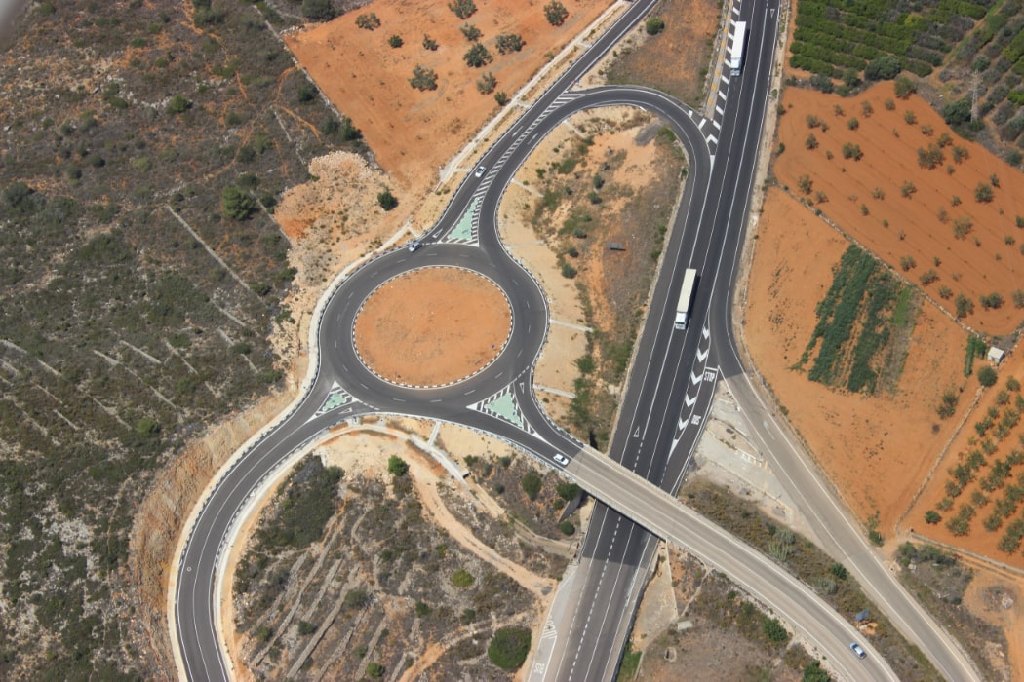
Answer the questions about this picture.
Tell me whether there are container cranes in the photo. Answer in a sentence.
No, no container crane is visible in the view.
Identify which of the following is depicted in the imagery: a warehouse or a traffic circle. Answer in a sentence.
I can see a traffic circle in this picture.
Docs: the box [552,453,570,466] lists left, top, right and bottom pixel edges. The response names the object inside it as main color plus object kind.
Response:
white vehicle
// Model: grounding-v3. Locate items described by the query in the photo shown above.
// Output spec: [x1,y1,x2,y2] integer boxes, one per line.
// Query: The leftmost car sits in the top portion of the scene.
[407,240,424,253]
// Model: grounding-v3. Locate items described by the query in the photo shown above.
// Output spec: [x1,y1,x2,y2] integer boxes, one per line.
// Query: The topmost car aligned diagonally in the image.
[474,165,487,179]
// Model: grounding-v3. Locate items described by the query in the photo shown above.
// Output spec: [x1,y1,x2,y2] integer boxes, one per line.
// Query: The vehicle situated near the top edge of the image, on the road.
[727,21,743,74]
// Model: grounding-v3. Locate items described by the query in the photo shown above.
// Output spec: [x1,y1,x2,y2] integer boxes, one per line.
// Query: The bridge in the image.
[547,443,903,682]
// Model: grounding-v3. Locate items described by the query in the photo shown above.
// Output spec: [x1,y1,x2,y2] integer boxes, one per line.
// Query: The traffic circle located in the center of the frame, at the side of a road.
[298,193,553,443]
